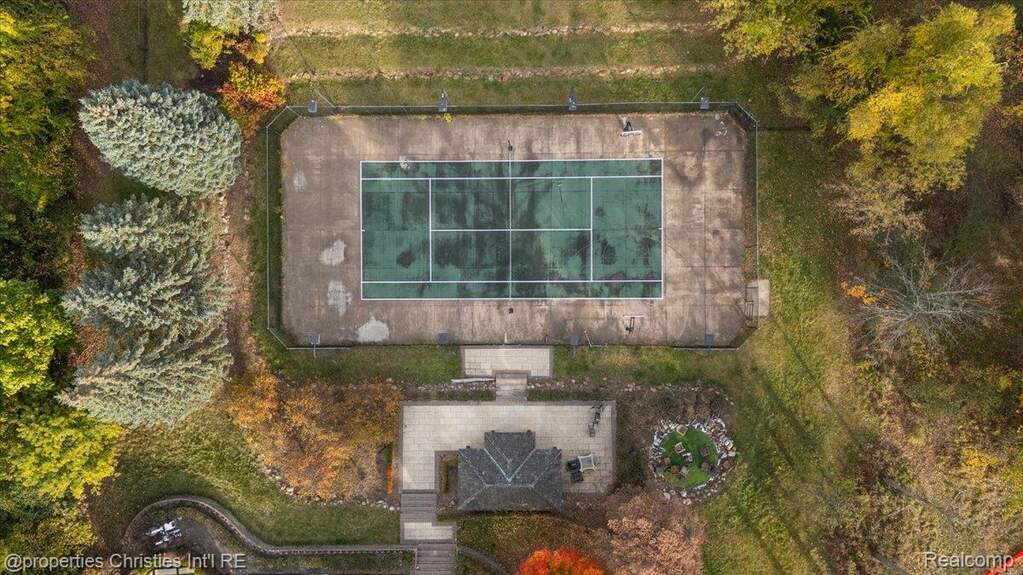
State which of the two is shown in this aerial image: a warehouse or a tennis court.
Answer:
tennis court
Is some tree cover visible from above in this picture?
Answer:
Yes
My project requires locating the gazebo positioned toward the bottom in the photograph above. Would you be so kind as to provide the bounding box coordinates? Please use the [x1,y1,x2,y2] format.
[458,426,562,511]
